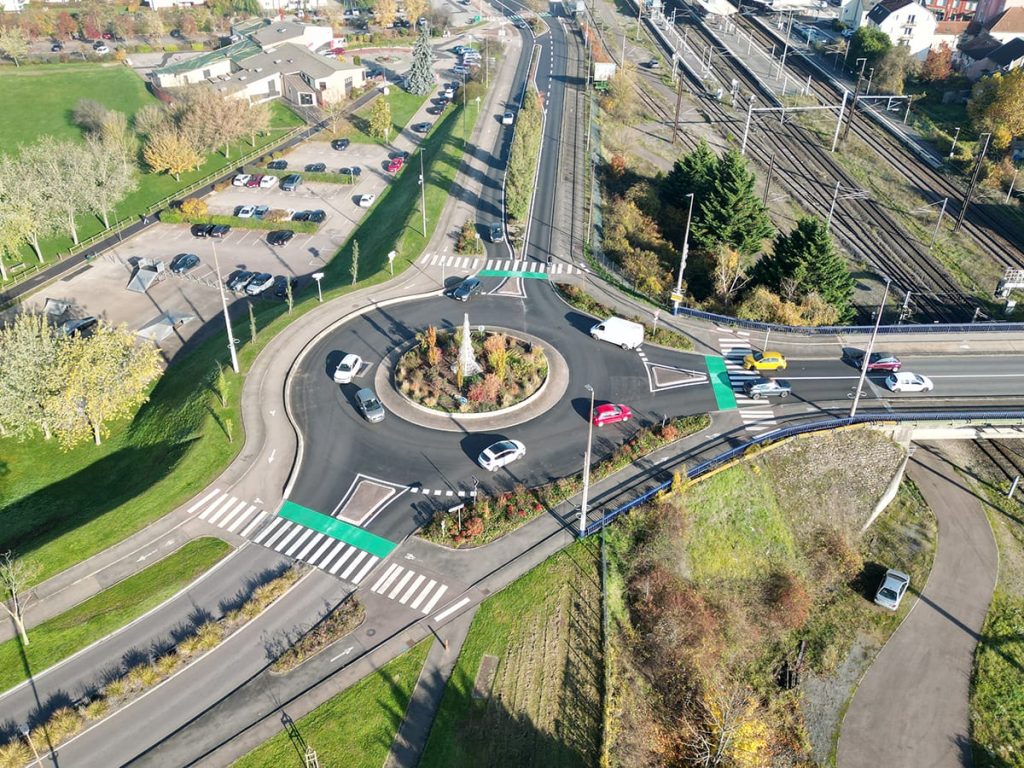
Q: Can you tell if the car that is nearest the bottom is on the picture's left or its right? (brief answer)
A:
right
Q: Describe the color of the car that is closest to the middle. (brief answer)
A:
white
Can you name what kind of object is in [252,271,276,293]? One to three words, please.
car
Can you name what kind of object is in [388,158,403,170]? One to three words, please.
vehicle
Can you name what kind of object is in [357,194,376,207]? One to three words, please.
vehicle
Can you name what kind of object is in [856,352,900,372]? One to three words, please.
car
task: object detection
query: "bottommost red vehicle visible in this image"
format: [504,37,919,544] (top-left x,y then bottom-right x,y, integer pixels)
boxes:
[592,402,634,427]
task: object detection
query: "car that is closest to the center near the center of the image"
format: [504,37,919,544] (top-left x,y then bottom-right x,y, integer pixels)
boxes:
[476,439,526,470]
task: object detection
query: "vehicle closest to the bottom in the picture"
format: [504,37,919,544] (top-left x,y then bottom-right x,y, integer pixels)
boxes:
[873,569,908,611]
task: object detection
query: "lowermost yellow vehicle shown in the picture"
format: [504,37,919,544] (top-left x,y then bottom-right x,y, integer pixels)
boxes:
[745,350,787,369]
